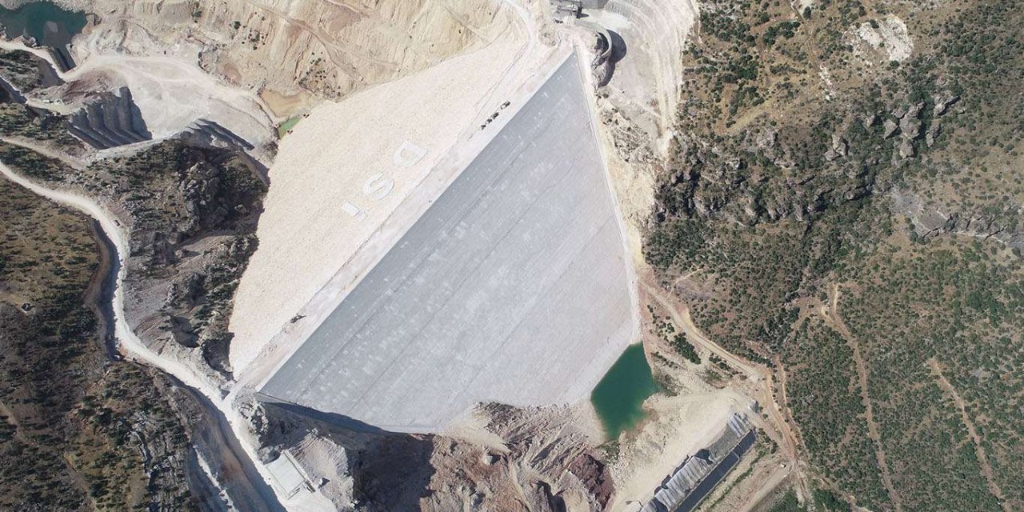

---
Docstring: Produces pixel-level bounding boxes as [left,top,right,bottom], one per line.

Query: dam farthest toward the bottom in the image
[227,29,645,432]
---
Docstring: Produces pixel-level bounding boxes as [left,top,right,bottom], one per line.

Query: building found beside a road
[264,450,318,500]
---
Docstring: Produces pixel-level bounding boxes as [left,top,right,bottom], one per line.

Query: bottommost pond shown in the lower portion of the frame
[593,335,661,441]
